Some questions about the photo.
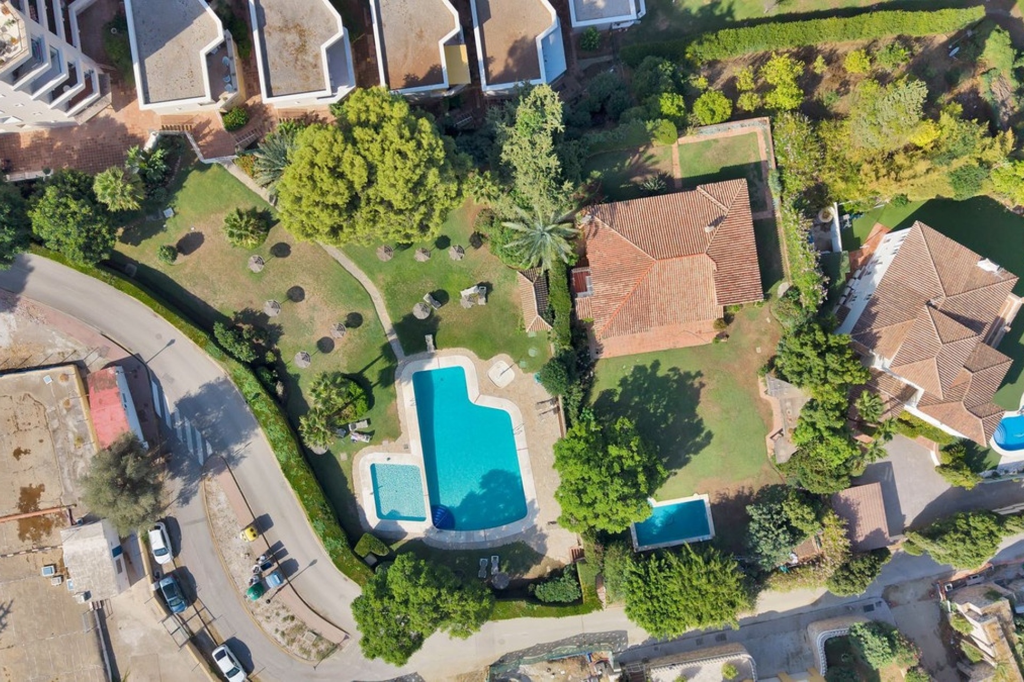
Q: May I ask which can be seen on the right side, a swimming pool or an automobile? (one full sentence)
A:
You can see a swimming pool on the right side.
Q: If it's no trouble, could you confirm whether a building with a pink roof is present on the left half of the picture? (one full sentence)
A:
Yes, a building with a pink roof shows up on the left half of the picture.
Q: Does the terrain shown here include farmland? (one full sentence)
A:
No, farmland can't be seen anywhere here.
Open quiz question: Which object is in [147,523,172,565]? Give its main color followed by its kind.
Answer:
white car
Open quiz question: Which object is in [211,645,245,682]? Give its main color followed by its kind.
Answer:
white car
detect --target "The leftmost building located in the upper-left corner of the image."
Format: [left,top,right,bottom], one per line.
[0,0,108,131]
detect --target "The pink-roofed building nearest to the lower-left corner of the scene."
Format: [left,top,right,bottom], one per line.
[88,366,152,450]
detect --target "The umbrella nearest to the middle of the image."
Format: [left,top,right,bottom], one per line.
[460,291,478,308]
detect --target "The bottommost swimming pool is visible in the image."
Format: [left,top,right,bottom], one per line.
[629,495,715,552]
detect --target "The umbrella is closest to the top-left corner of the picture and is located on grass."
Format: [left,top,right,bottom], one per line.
[248,255,266,273]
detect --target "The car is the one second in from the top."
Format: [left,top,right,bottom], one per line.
[158,574,188,614]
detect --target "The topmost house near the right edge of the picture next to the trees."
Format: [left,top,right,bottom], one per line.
[840,221,1024,448]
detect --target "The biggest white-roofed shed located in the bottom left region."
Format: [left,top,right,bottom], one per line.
[60,518,132,603]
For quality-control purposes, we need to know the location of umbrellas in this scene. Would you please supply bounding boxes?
[330,321,349,340]
[377,245,395,262]
[264,299,282,317]
[460,291,478,308]
[413,245,430,263]
[447,243,464,261]
[412,302,430,320]
[313,441,329,455]
[248,255,266,273]
[294,350,312,368]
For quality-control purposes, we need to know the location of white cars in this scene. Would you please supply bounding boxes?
[147,523,172,565]
[211,645,245,682]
